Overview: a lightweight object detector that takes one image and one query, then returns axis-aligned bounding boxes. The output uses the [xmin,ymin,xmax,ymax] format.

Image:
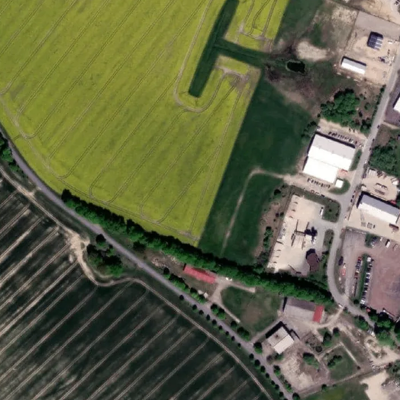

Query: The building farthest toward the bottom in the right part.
[267,326,297,353]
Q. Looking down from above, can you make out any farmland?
Yes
